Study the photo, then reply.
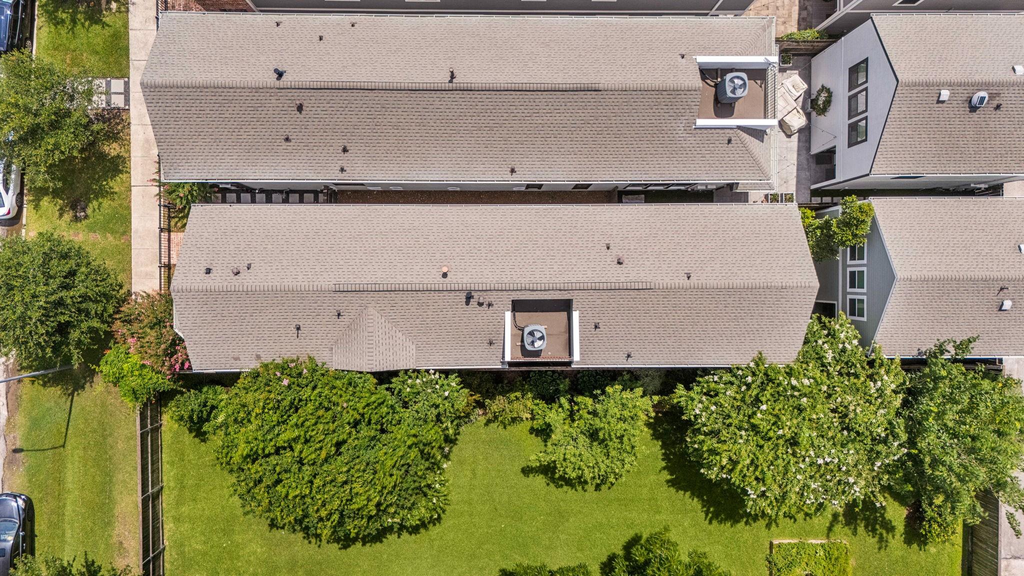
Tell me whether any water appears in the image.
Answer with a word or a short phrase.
No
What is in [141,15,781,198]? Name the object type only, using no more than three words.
house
